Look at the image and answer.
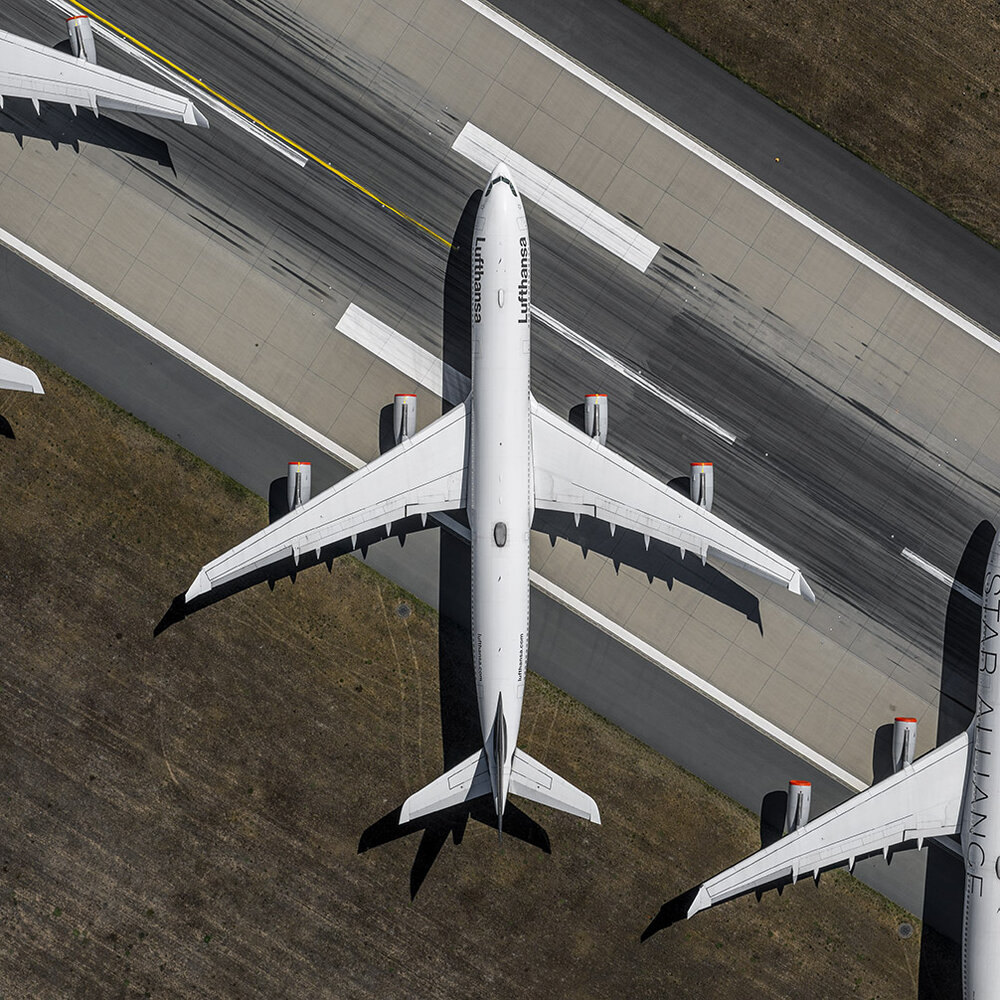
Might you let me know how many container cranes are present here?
zero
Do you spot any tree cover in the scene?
No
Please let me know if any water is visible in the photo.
No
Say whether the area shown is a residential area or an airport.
airport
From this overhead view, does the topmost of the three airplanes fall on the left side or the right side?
left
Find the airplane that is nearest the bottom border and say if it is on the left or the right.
right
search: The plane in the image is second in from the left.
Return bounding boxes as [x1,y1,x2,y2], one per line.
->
[187,162,814,841]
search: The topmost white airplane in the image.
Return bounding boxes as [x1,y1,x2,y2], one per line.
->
[0,19,209,128]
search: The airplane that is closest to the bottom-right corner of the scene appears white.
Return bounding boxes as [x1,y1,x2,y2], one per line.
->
[686,512,1000,1000]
